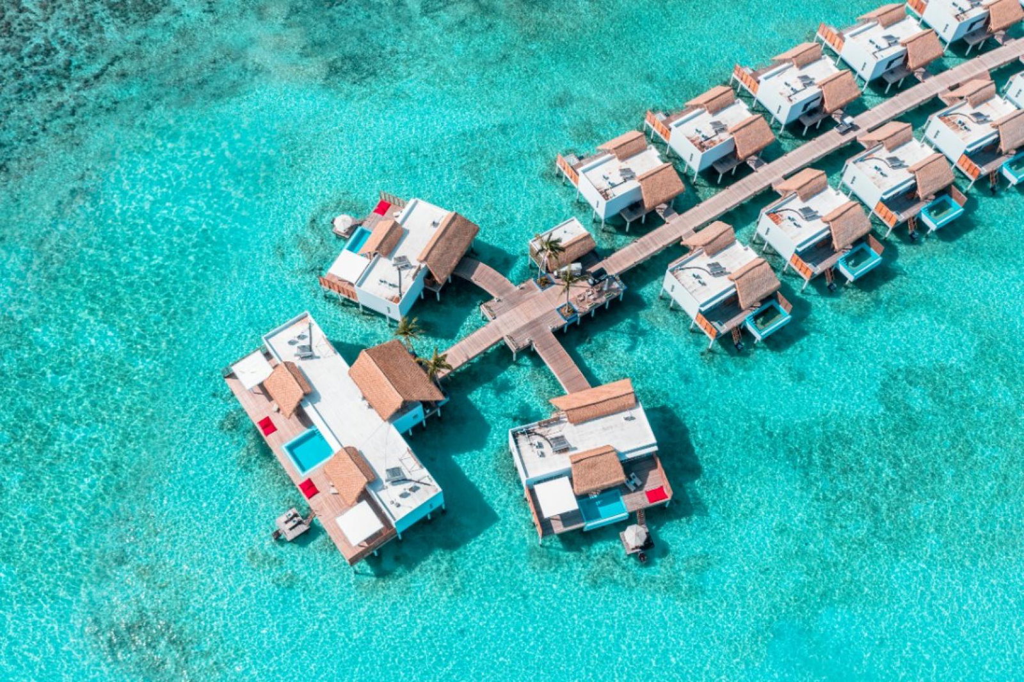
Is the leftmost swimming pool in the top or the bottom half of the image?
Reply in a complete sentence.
The leftmost swimming pool is in the bottom half of the image.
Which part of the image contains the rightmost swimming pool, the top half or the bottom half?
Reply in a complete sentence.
It is in the top half that the rightmost swimming pool appears.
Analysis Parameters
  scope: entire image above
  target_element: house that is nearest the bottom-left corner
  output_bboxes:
[220,311,452,573]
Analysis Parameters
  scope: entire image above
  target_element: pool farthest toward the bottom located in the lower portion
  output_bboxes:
[577,489,629,531]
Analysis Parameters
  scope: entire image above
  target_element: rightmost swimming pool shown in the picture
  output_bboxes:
[1001,150,1024,185]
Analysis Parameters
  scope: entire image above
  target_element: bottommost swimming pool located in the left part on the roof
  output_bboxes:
[282,426,336,476]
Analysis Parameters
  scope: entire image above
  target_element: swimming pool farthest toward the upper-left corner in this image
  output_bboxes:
[339,226,373,257]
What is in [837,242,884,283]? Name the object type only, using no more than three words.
swimming pool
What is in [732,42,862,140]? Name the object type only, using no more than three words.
house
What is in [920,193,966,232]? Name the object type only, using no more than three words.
swimming pool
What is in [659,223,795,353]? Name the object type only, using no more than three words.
house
